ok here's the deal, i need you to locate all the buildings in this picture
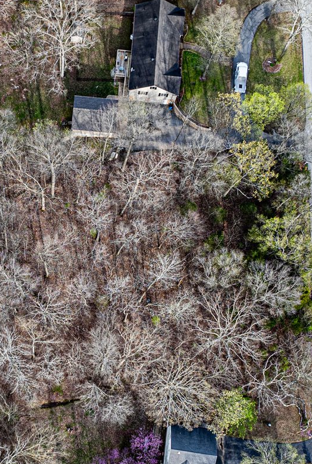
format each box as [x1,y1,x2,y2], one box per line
[73,93,119,136]
[127,0,189,106]
[68,22,87,48]
[164,423,218,464]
